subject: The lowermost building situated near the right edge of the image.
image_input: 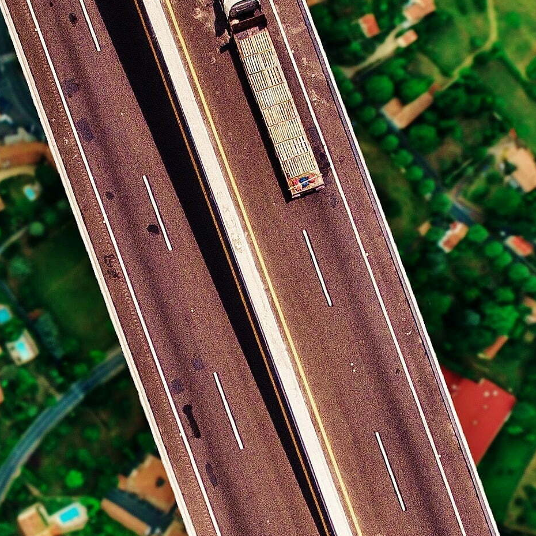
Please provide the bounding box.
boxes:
[434,356,518,468]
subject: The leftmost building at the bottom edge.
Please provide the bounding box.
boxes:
[17,499,61,536]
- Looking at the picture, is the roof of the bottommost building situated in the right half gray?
No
